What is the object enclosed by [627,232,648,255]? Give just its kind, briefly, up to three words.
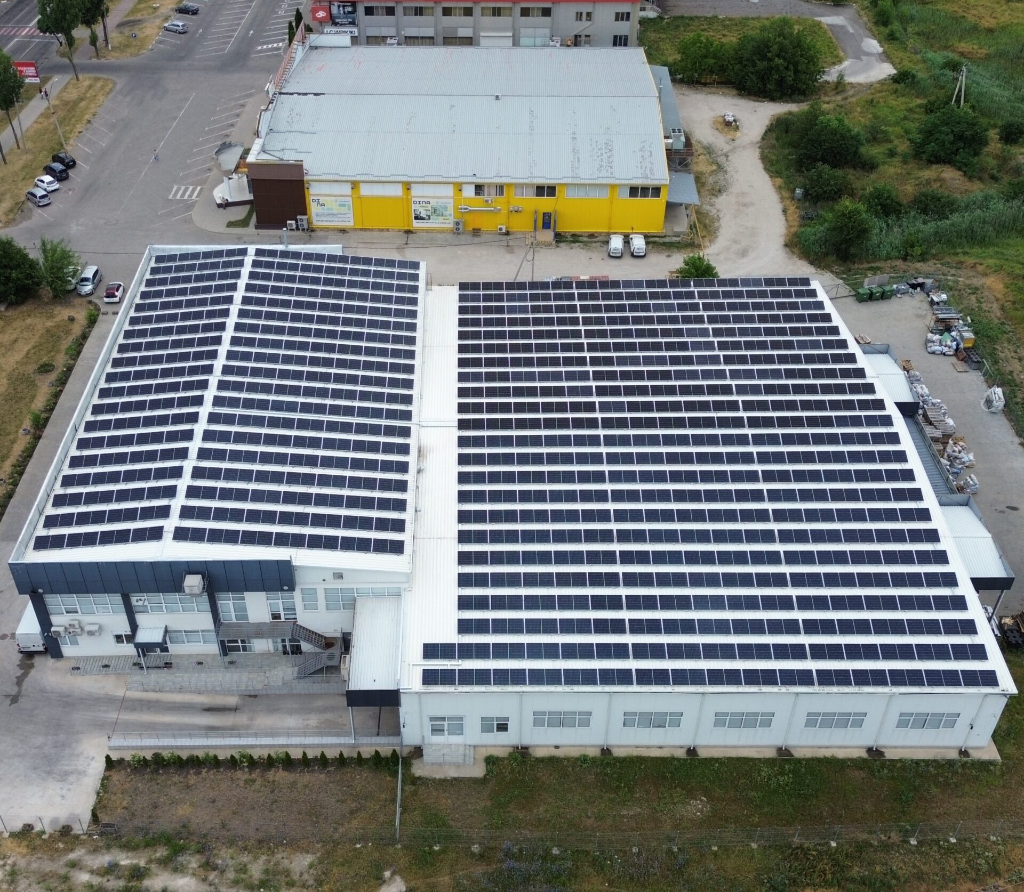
vehicle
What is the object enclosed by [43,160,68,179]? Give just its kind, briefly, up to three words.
car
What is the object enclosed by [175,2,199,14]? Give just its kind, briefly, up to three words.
vehicle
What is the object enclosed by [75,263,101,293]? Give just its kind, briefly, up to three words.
car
